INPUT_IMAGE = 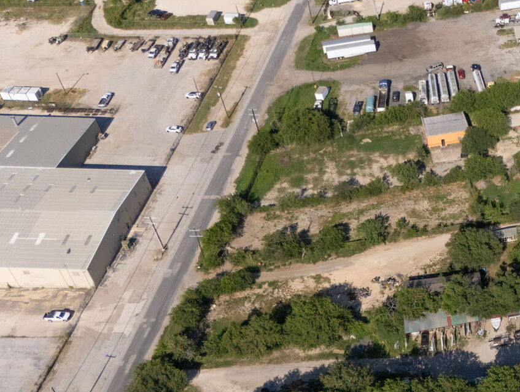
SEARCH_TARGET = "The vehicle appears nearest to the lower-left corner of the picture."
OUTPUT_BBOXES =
[40,311,75,324]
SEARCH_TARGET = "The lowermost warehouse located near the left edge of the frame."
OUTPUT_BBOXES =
[0,166,151,287]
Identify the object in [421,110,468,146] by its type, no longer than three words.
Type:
building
